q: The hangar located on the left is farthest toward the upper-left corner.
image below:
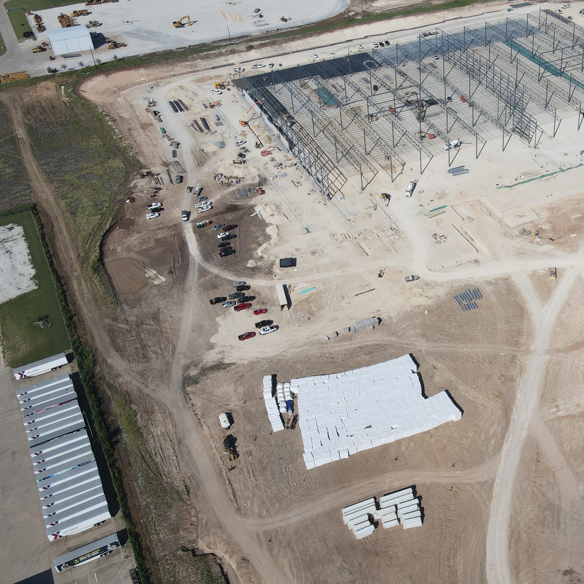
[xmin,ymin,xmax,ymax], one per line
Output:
[48,24,95,55]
